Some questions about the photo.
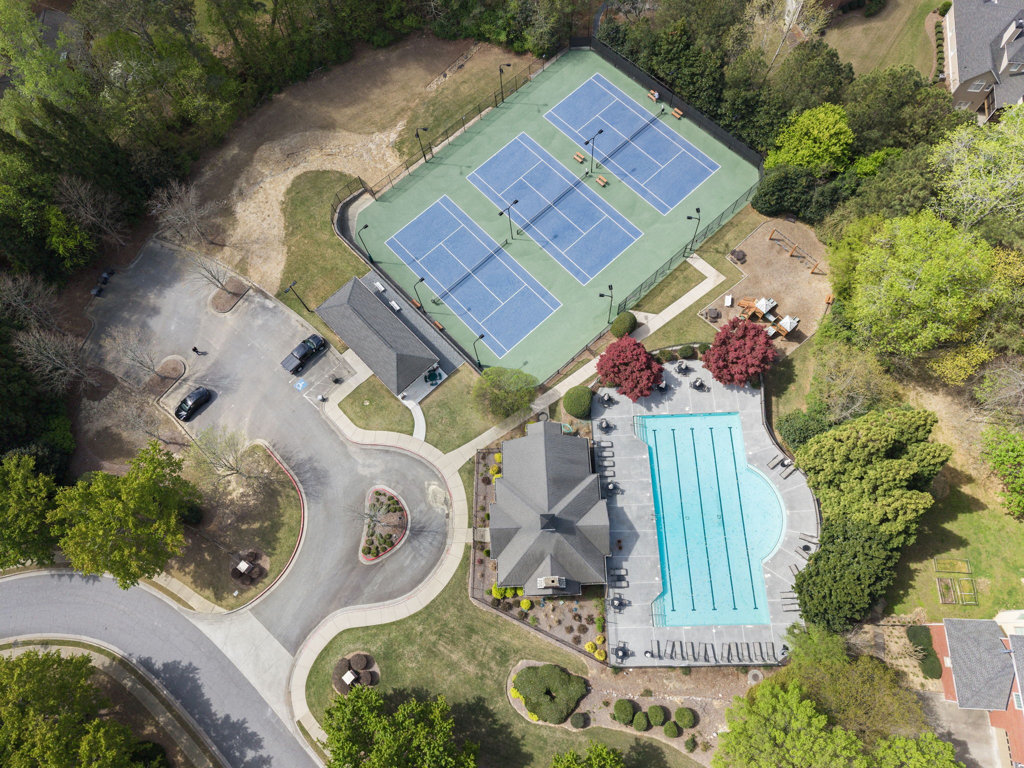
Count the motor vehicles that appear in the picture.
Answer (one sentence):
In total, there are 2 motor vehicles in the scene.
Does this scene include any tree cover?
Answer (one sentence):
Yes, tree cover can be seen from above here.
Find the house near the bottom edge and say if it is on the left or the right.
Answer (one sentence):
It is on the right.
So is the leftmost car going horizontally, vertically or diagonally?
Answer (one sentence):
What the image shows is the leftmost car lying diagonally.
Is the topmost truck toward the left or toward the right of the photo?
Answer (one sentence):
It is on the left.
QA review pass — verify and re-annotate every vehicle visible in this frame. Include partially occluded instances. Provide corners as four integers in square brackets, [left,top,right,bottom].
[176,386,210,419]
[279,335,326,373]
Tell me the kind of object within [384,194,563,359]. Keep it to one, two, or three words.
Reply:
tennis court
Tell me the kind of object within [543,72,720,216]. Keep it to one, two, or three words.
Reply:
tennis court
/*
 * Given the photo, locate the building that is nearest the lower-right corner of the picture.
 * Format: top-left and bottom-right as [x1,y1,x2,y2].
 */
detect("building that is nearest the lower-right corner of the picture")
[902,608,1024,768]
